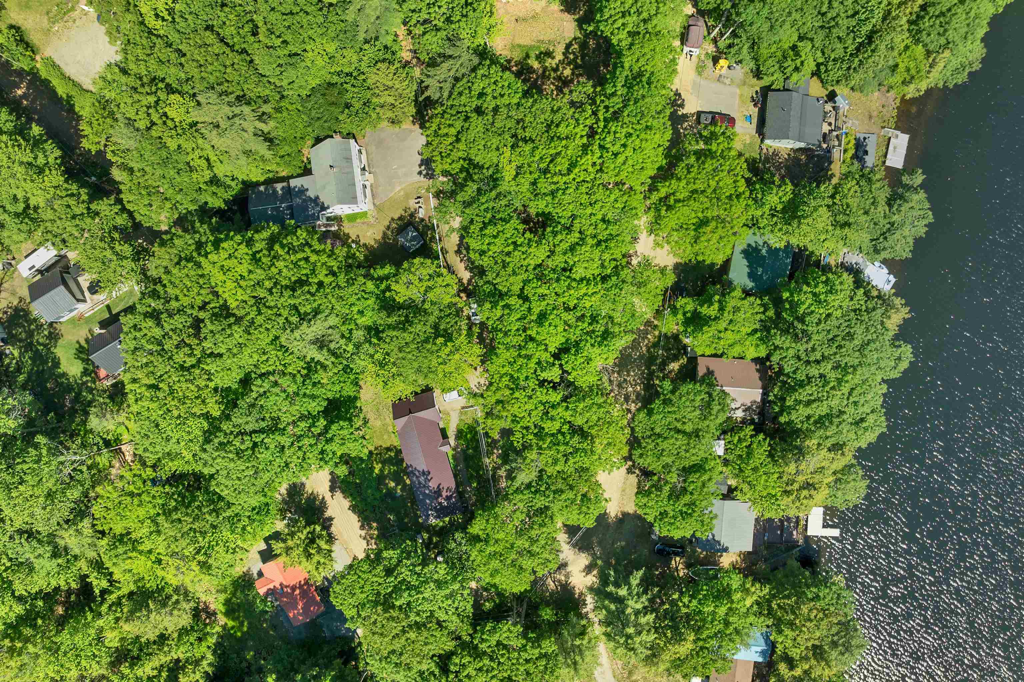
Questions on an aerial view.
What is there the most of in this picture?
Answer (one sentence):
The largest share of the image is taken up by trees.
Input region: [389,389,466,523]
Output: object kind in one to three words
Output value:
house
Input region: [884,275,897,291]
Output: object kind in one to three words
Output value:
boat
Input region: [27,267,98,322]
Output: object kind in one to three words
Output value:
house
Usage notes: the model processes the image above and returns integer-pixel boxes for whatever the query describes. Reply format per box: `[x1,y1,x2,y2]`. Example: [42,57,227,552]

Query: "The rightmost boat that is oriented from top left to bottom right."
[872,260,889,274]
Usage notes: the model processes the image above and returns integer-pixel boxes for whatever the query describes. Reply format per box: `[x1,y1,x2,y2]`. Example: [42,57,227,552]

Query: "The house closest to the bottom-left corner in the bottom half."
[256,550,330,626]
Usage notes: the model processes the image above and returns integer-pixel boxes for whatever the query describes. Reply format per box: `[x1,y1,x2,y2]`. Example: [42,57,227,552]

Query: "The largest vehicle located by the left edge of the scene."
[17,244,67,280]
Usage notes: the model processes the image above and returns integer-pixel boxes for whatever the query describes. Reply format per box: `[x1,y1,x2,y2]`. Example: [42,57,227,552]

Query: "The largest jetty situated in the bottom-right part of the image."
[807,507,841,539]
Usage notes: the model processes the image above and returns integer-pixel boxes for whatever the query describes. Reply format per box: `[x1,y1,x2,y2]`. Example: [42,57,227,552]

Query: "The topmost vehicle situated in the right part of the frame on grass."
[711,58,729,77]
